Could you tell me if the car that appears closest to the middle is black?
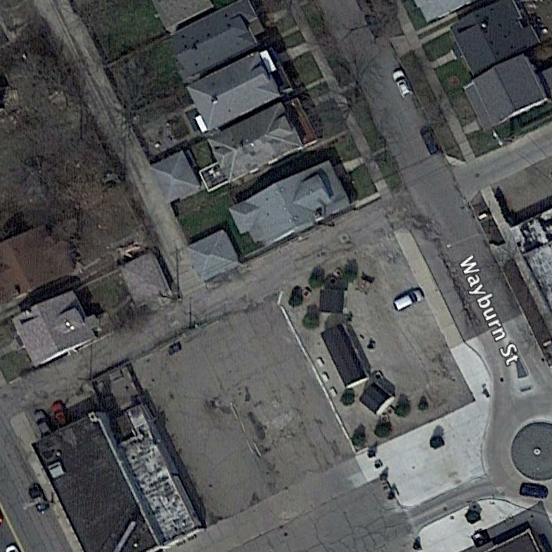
No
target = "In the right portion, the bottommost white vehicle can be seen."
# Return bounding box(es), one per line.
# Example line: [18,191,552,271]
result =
[395,289,424,310]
